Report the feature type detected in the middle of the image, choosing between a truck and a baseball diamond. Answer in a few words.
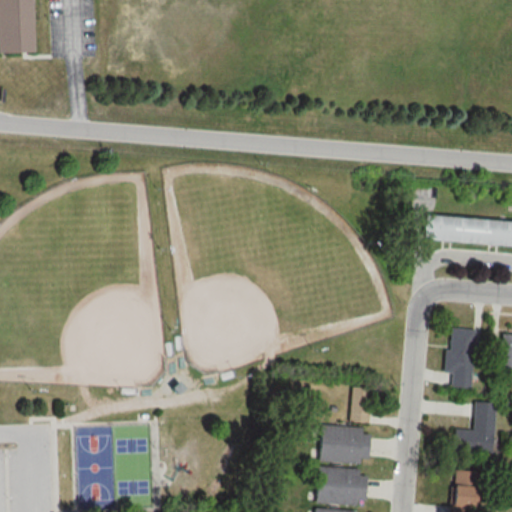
baseball diamond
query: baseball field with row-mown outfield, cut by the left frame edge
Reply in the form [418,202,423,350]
[0,172,162,387]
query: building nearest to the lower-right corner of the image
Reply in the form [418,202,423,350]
[450,470,482,510]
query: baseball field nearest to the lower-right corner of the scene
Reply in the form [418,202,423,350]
[162,162,390,372]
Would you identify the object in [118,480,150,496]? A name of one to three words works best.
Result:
sports court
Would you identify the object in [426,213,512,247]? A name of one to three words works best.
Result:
building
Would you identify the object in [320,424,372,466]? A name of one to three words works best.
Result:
house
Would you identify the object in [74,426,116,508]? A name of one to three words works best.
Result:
basketball court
